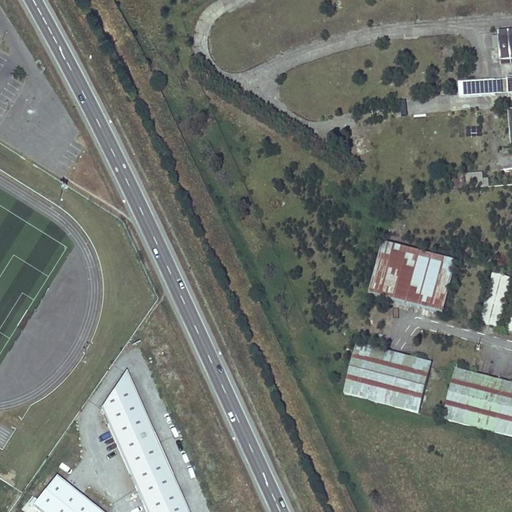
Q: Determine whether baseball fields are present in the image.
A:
No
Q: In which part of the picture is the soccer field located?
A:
left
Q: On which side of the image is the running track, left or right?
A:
left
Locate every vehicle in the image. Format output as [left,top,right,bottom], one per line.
[227,411,236,424]
[152,248,159,258]
[106,444,116,451]
[278,498,286,508]
[164,413,172,424]
[106,451,116,459]
[186,466,196,478]
[78,93,85,104]
[180,451,190,464]
[176,440,184,451]
[98,432,112,441]
[216,364,224,374]
[170,424,179,438]
[58,460,72,472]
[178,278,185,289]
[104,438,114,446]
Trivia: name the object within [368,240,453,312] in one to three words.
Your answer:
barn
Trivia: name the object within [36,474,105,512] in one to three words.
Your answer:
building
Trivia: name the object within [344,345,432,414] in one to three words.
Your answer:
barn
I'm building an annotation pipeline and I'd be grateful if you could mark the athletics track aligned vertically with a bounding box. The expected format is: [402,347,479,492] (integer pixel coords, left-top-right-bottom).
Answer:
[0,170,102,409]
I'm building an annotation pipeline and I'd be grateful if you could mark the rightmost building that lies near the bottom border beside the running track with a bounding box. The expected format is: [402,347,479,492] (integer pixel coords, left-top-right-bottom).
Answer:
[101,368,190,512]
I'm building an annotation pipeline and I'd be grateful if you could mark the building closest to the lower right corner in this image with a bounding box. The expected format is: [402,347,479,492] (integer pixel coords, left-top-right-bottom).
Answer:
[447,367,512,439]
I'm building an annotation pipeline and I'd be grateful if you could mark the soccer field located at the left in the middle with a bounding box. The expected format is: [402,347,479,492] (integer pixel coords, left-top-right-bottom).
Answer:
[0,188,74,362]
